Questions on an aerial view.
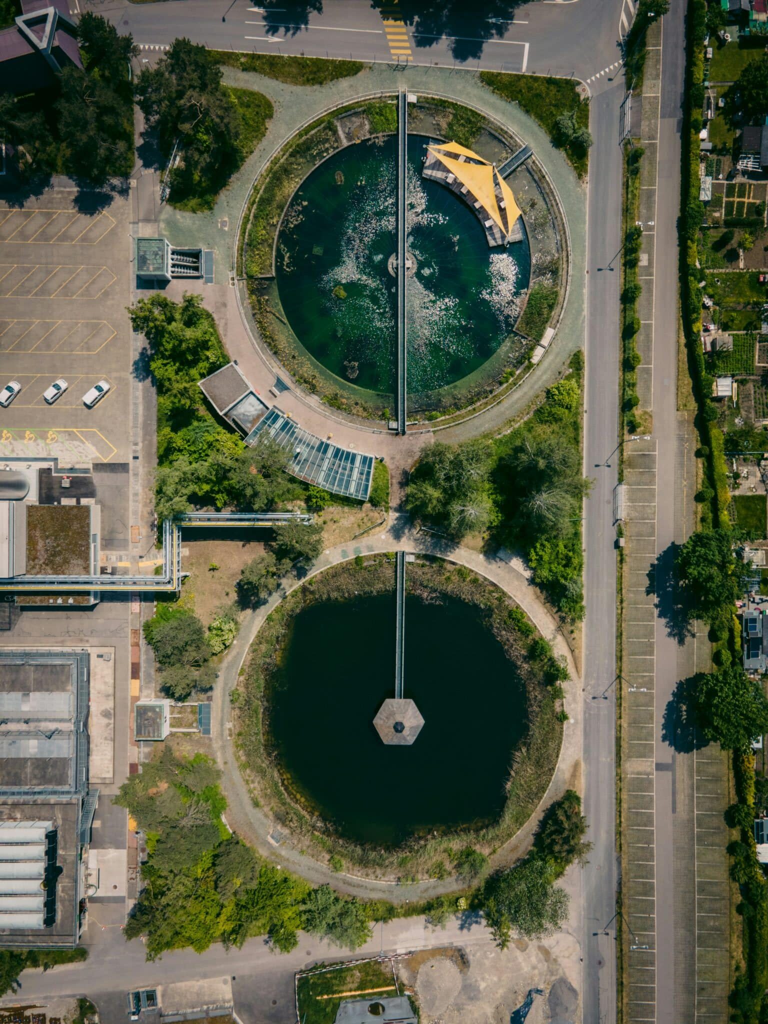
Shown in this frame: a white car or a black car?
white car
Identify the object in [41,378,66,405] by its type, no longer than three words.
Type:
car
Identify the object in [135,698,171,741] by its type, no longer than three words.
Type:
building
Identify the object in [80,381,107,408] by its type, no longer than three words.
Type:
car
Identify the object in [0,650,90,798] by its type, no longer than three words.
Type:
building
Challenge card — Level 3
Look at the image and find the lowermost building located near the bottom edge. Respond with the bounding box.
[335,987,425,1024]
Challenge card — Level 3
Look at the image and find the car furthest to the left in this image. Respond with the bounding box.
[0,380,20,407]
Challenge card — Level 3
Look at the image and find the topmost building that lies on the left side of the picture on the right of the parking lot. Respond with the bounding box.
[137,238,172,281]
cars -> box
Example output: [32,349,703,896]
[41,378,66,405]
[80,381,107,408]
[0,380,20,407]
